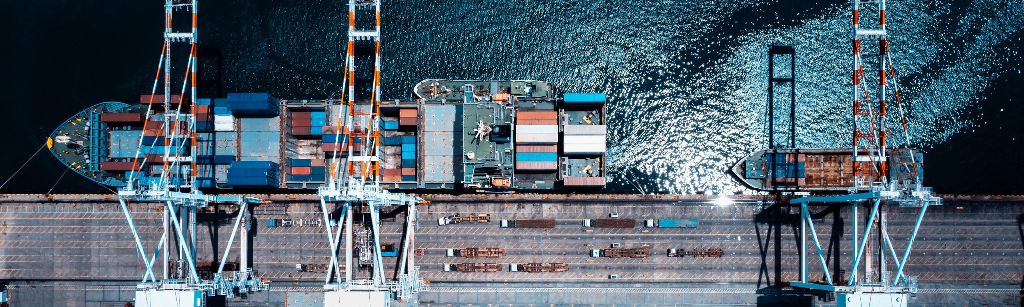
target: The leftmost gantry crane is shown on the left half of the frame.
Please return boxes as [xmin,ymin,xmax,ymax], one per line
[113,0,276,307]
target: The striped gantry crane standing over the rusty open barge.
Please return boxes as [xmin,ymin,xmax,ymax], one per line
[778,0,939,307]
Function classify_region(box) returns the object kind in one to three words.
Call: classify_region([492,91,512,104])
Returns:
boat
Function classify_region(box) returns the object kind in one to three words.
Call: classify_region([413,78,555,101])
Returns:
ship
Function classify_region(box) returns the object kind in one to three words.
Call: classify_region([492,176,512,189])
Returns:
boat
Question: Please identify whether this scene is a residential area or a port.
port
